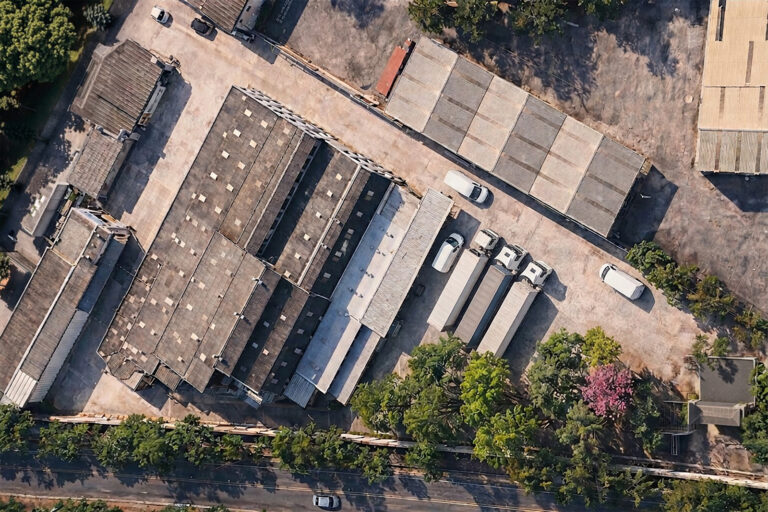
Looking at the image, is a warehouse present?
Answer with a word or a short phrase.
Yes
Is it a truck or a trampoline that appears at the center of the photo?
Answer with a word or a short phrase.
truck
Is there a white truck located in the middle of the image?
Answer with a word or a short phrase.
Yes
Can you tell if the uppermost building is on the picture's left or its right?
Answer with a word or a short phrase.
left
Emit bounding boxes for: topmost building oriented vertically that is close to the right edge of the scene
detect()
[697,0,768,174]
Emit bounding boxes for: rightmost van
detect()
[601,268,644,298]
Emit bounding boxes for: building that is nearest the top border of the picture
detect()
[182,0,267,37]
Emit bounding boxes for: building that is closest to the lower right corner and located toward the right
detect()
[688,357,760,431]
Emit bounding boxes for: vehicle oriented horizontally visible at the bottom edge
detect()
[310,496,339,510]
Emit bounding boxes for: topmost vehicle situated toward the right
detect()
[442,172,488,201]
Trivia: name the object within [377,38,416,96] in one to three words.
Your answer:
shed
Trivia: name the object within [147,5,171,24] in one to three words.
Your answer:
car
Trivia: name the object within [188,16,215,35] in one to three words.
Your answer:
car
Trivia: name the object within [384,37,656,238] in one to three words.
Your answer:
warehouse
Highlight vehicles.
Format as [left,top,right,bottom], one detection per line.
[431,235,462,271]
[428,228,499,329]
[310,496,339,510]
[147,5,171,24]
[442,172,488,201]
[478,261,548,362]
[454,244,524,345]
[188,16,215,35]
[601,268,644,298]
